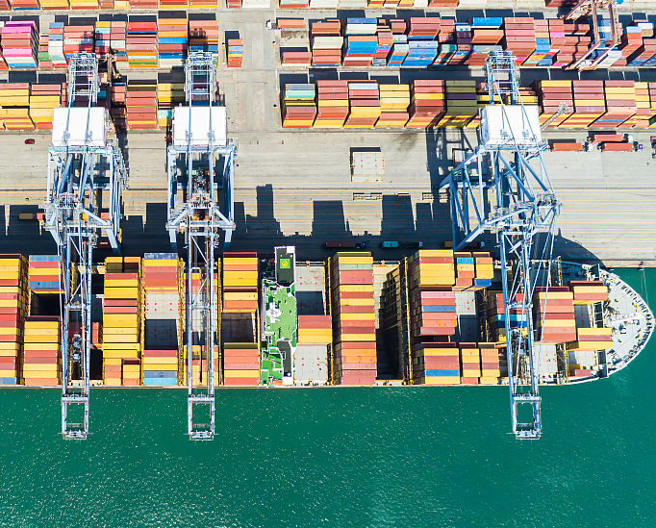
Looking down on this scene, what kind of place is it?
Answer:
port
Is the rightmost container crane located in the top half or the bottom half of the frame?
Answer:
top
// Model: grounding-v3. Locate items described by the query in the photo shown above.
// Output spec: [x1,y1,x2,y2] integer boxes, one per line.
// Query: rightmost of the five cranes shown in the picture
[560,0,621,71]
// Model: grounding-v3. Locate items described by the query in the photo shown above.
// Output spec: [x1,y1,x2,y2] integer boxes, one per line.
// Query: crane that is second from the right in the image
[424,45,564,448]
